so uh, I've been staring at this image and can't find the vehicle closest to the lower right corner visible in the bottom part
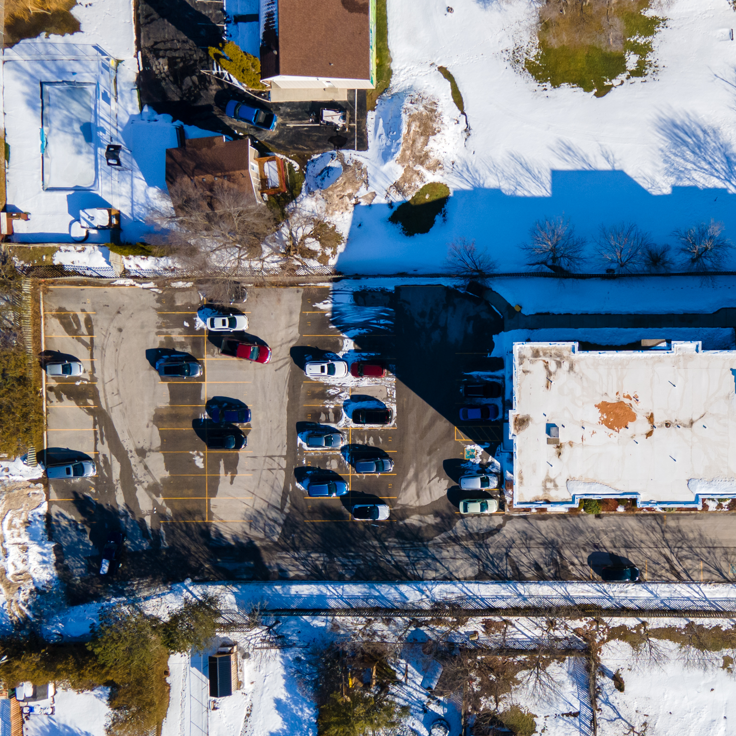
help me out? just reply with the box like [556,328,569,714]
[602,564,639,584]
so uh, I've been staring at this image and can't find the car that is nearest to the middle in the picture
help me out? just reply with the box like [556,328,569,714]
[350,359,387,379]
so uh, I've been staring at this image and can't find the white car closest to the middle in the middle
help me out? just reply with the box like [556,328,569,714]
[304,359,348,379]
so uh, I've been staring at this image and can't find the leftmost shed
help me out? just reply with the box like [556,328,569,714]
[0,213,23,237]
